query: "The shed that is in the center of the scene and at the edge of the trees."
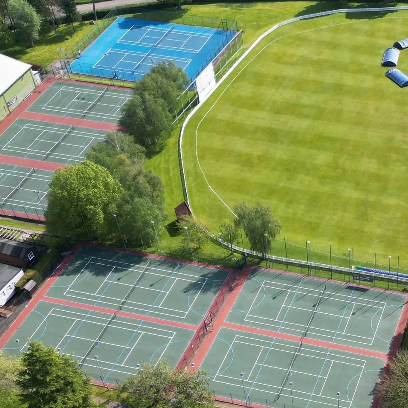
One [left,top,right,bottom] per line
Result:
[169,203,199,229]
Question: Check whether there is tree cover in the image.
Yes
